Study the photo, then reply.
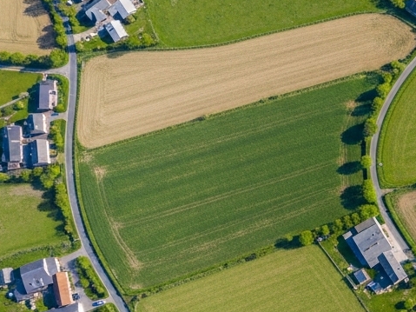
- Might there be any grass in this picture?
Yes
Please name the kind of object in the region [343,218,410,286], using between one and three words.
house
